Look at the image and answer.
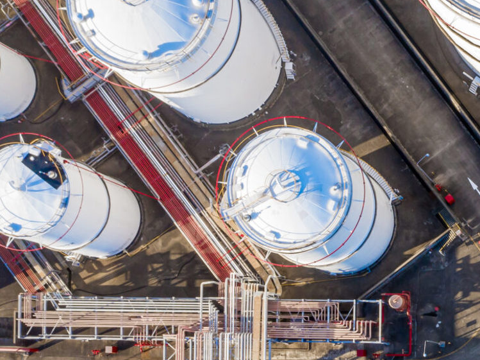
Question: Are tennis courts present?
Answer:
No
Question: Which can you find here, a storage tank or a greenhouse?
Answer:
storage tank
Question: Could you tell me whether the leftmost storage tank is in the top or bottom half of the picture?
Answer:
top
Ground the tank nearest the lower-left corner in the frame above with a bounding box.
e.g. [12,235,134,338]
[0,128,157,268]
